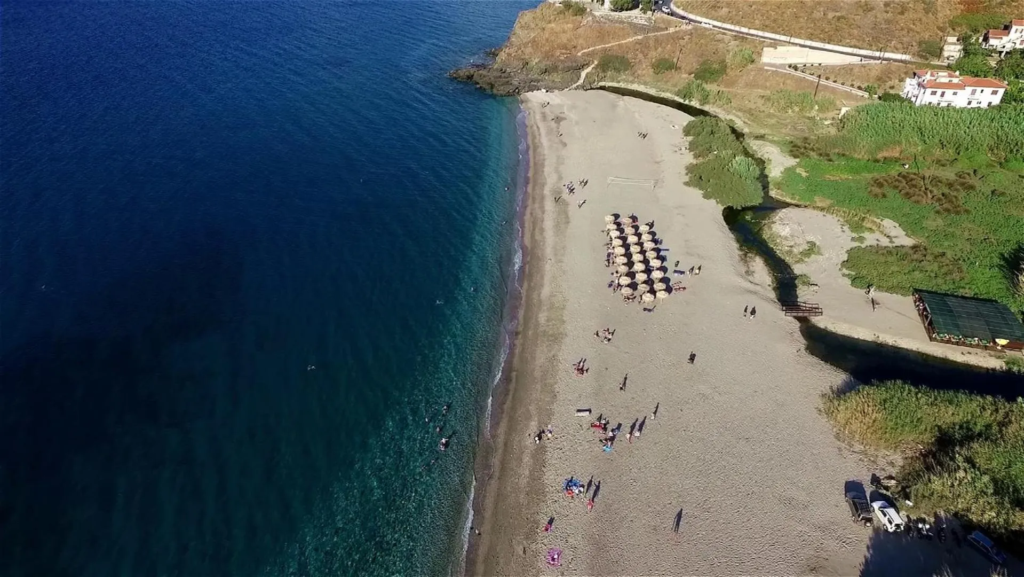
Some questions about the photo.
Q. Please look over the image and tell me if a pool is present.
No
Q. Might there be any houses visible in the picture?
Yes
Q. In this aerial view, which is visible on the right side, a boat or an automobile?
automobile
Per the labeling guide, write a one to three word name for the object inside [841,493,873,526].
car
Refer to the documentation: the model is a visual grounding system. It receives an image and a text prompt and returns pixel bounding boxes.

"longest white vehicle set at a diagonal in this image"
[868,497,908,534]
